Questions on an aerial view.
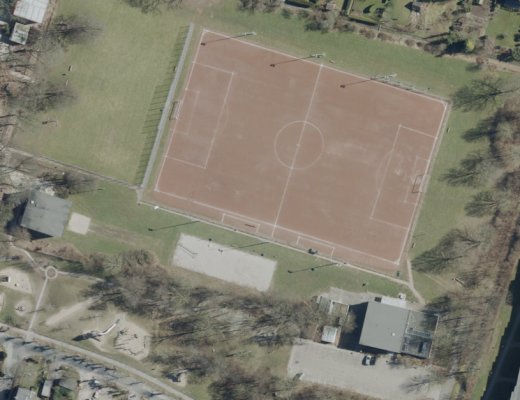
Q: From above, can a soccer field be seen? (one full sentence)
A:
Yes, there is a soccer field in the image.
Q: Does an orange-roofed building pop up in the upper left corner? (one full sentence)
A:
No, I see no orange-roofed building in the upper left corner.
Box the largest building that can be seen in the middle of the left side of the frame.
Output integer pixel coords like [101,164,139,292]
[21,190,75,239]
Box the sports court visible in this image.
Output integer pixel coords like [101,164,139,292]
[172,233,278,292]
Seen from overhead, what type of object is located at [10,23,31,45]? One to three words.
building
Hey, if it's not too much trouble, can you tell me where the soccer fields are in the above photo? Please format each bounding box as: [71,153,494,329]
[152,26,450,278]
